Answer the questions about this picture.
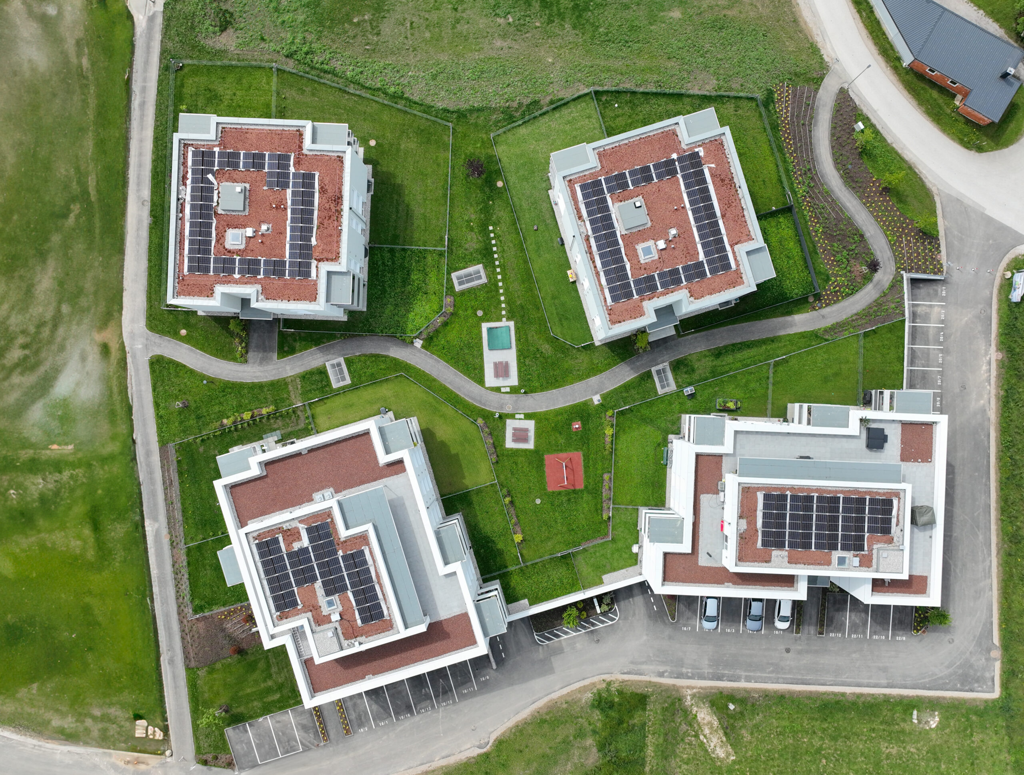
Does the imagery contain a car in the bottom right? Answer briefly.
Yes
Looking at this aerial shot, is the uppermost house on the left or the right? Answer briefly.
right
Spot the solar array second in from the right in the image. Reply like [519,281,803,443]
[576,148,736,304]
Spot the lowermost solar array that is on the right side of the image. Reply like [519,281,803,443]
[757,492,895,554]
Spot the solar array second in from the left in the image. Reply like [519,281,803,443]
[251,520,386,627]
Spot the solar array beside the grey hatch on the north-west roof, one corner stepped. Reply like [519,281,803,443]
[182,148,316,280]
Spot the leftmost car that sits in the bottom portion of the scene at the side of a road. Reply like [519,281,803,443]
[702,596,721,630]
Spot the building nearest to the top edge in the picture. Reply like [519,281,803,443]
[871,0,1024,125]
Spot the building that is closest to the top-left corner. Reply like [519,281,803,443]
[167,113,368,320]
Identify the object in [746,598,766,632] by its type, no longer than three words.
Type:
car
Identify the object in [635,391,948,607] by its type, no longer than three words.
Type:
building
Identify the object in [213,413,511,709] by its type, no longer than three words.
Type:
building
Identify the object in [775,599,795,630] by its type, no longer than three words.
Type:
car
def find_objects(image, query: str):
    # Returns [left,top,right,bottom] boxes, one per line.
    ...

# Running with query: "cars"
[702,596,721,630]
[775,599,795,630]
[746,598,766,632]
